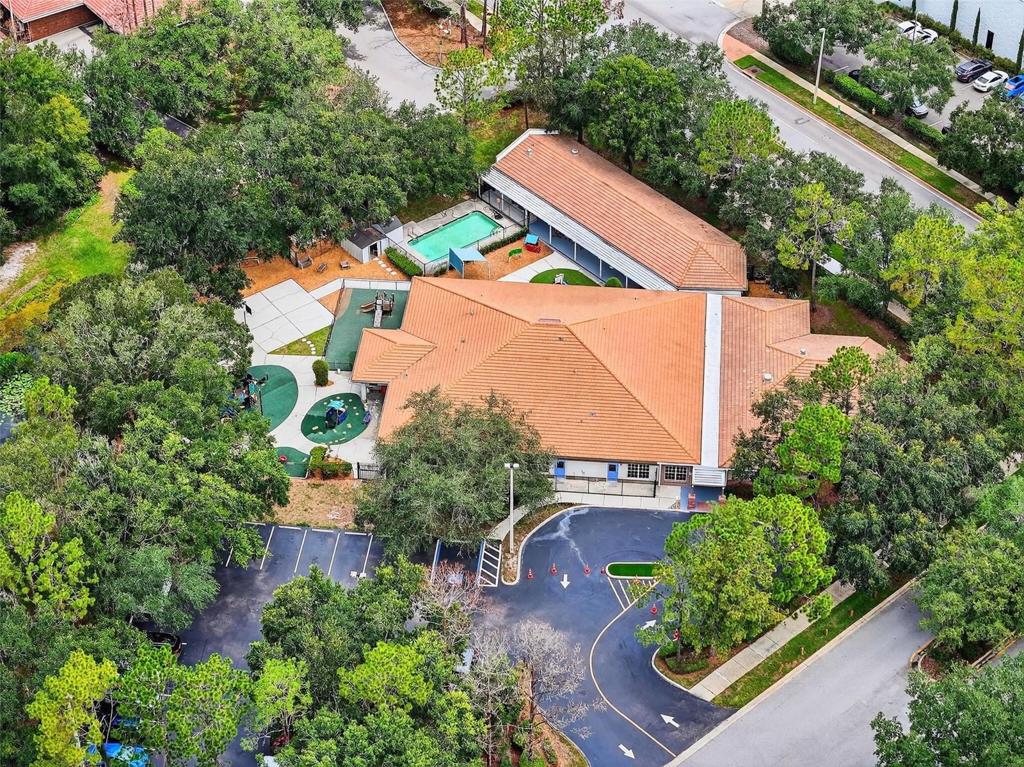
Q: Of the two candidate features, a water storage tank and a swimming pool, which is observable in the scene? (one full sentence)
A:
This aerial view contains a swimming pool.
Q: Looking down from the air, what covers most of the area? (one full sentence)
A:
Most of the picture is covered by trees.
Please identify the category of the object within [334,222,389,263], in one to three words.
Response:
shed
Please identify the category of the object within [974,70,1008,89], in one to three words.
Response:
car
